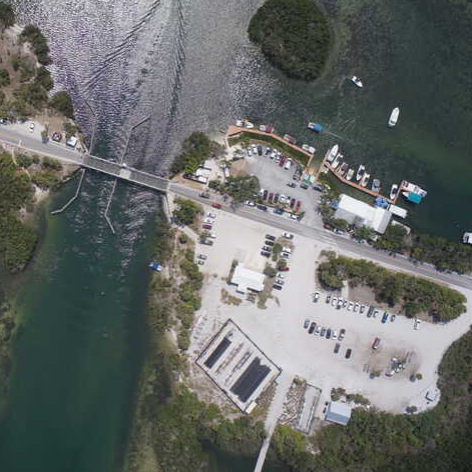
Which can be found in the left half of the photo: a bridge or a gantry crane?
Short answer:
bridge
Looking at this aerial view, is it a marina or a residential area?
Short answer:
marina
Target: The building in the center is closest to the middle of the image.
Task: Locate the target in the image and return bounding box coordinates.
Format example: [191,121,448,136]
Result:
[230,264,265,294]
